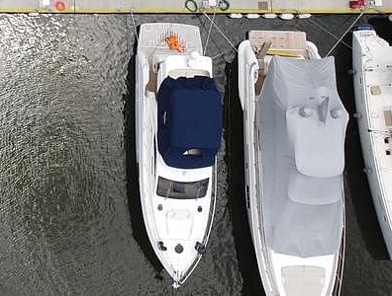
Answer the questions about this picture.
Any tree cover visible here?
No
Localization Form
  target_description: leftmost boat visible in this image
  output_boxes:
[130,25,223,293]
